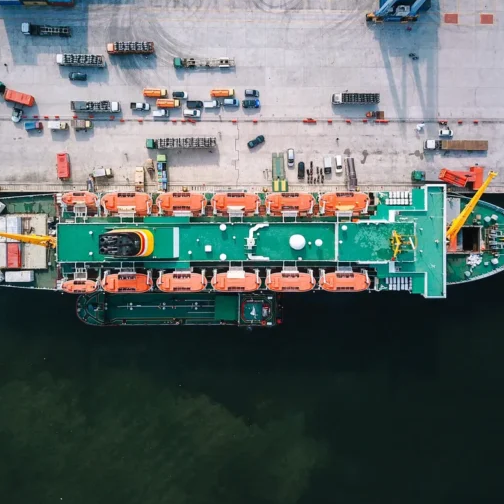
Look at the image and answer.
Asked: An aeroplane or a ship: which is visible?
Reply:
ship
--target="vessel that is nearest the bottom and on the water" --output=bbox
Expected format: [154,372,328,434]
[76,291,282,328]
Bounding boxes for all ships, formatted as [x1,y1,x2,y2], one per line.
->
[76,291,282,328]
[0,172,504,298]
